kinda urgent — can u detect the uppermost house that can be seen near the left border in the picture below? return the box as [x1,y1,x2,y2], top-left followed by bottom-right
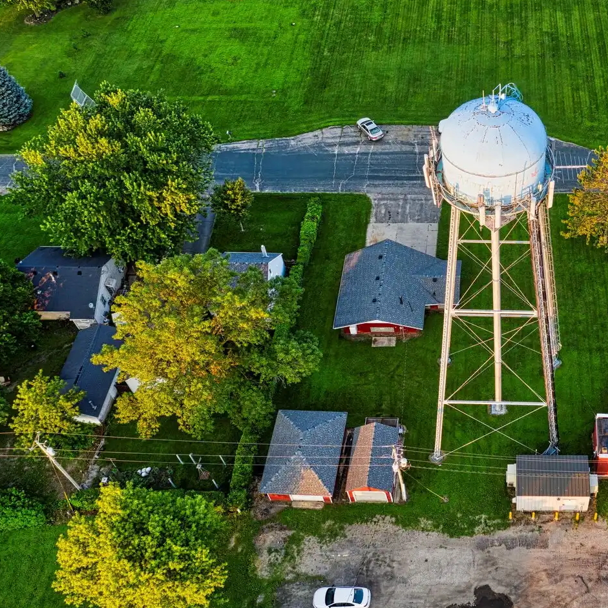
[12,254,128,344]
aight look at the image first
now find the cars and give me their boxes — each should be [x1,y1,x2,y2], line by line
[357,118,385,142]
[312,585,371,608]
